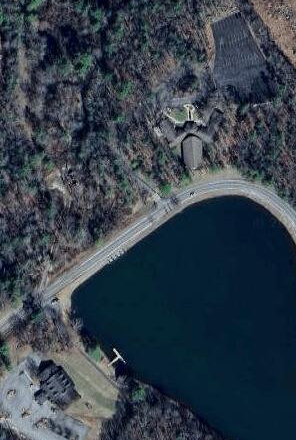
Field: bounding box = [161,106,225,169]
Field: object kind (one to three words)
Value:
building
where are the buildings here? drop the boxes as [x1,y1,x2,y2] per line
[161,106,225,169]
[28,360,78,407]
